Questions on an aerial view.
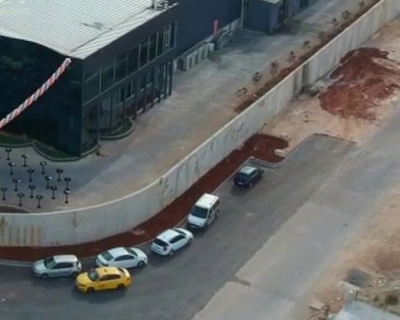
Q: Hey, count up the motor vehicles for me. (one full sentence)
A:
Altogether the scene contains 6 motor vehicles.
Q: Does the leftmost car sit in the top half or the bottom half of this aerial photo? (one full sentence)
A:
You can find the leftmost car in the bottom half.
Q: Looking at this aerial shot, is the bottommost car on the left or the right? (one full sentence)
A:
The bottommost car sits on the left side.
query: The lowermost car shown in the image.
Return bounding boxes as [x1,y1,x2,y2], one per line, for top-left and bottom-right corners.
[76,267,132,293]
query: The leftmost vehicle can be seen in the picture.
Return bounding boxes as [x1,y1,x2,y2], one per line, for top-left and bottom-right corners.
[33,255,82,279]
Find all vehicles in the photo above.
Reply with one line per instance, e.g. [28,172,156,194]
[185,192,225,227]
[33,255,82,279]
[147,225,197,255]
[230,166,268,189]
[76,267,132,293]
[96,248,149,270]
